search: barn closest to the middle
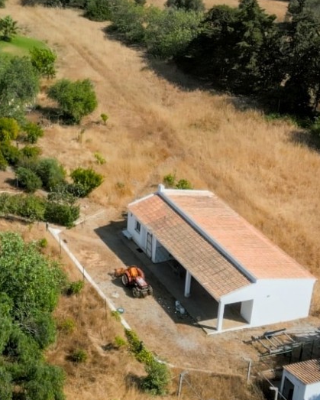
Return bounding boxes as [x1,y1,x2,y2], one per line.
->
[118,180,316,334]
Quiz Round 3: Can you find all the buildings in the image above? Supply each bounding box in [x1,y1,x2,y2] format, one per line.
[281,351,320,400]
[118,180,316,334]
